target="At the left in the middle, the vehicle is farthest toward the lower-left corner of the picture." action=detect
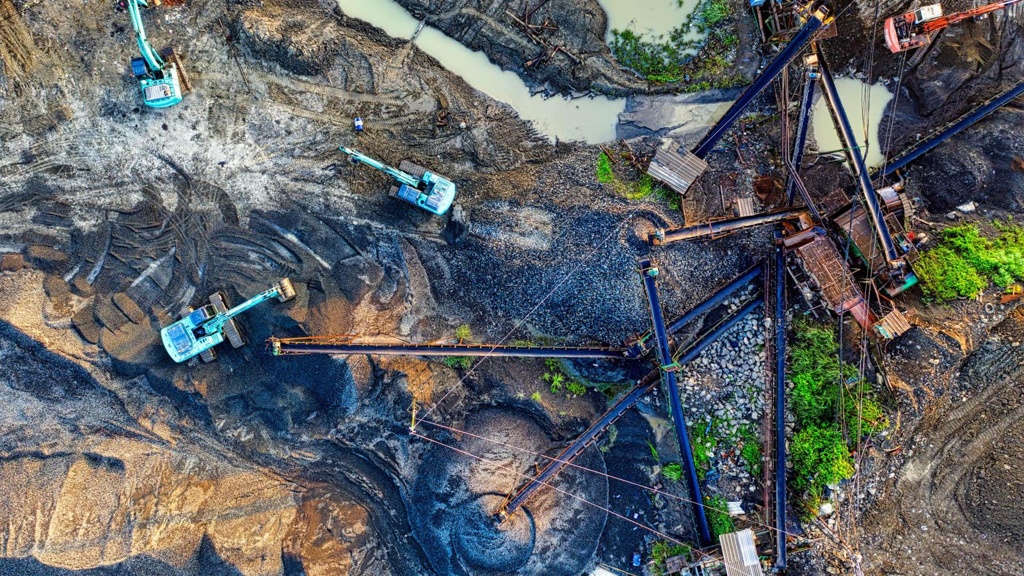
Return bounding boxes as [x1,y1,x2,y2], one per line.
[166,277,305,365]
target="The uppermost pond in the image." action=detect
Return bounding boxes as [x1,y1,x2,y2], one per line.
[600,0,716,82]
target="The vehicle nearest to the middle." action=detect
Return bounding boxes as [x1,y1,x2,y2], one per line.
[338,134,460,216]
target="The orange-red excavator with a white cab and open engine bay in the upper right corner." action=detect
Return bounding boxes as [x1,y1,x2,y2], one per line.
[882,1,1024,77]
